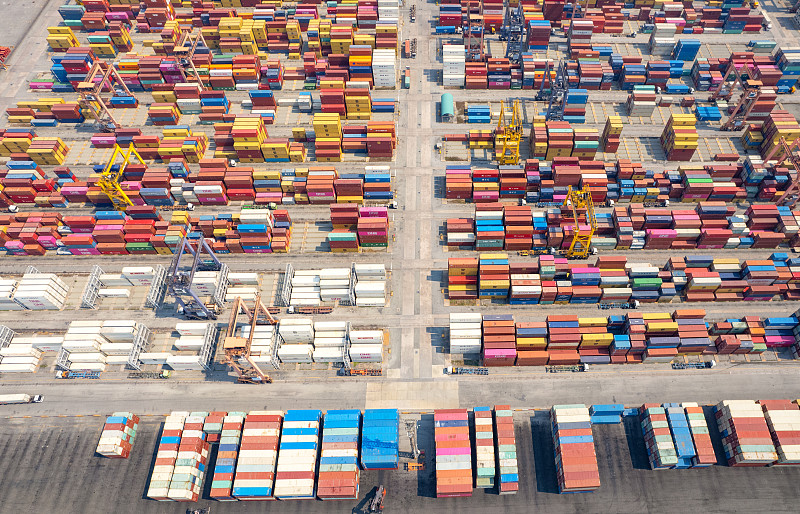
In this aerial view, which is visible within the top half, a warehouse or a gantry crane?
gantry crane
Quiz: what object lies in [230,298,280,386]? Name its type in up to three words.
container crane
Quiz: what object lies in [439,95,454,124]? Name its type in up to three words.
shed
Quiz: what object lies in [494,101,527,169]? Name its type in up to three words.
container crane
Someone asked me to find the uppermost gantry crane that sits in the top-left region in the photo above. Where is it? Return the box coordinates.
[175,34,209,91]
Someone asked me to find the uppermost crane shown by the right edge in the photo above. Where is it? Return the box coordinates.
[706,64,766,129]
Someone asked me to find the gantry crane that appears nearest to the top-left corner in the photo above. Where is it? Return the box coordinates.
[76,66,130,134]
